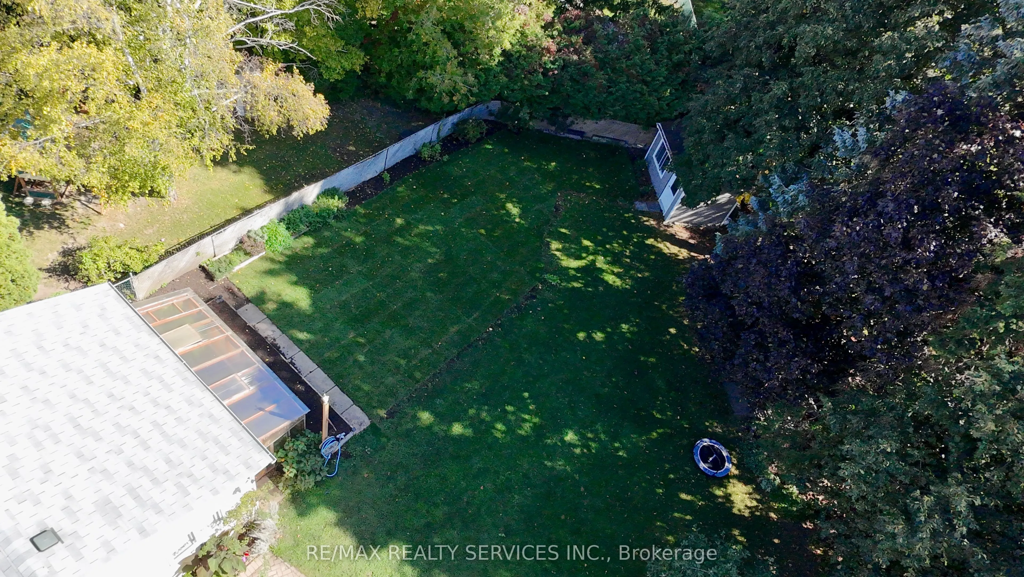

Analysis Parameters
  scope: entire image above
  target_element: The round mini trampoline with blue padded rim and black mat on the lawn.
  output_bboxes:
[693,438,732,479]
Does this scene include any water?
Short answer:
No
